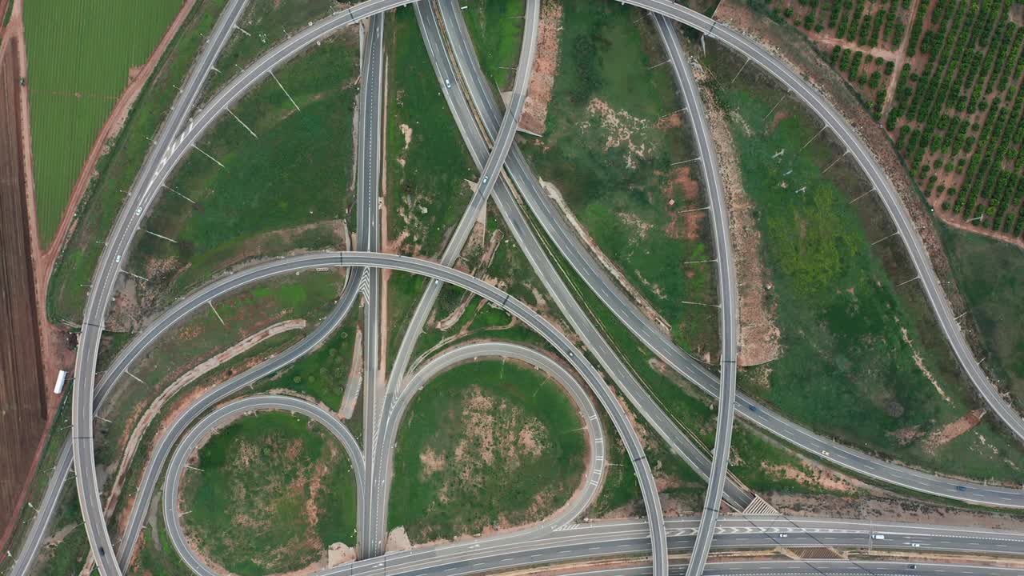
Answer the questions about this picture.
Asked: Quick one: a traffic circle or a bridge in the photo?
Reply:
bridge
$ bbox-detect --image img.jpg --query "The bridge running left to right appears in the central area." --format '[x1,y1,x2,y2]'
[339,251,514,309]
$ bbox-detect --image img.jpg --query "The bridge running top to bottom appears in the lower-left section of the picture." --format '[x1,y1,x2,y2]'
[71,324,123,576]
